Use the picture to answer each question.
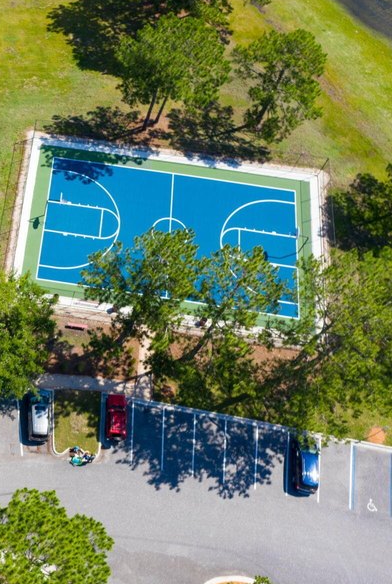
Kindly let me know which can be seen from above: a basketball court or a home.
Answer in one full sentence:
The one in the frame is a basketball court.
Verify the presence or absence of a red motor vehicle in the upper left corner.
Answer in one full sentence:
No, no red motor vehicle can be made out in the upper left corner.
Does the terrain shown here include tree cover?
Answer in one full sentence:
Yes, the picture does contain tree cover.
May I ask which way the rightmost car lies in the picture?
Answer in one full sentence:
The rightmost car is oriented vertically.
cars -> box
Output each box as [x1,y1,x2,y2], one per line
[105,395,130,446]
[28,392,55,446]
[294,441,324,500]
